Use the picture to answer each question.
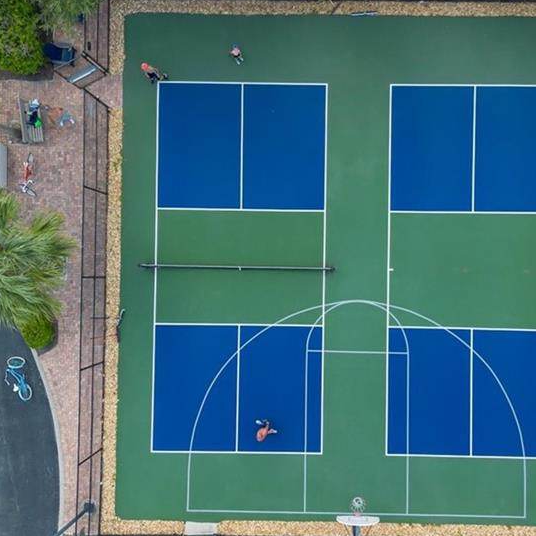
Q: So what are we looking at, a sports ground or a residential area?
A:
sports ground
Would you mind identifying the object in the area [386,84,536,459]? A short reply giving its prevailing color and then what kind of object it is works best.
blue sports court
